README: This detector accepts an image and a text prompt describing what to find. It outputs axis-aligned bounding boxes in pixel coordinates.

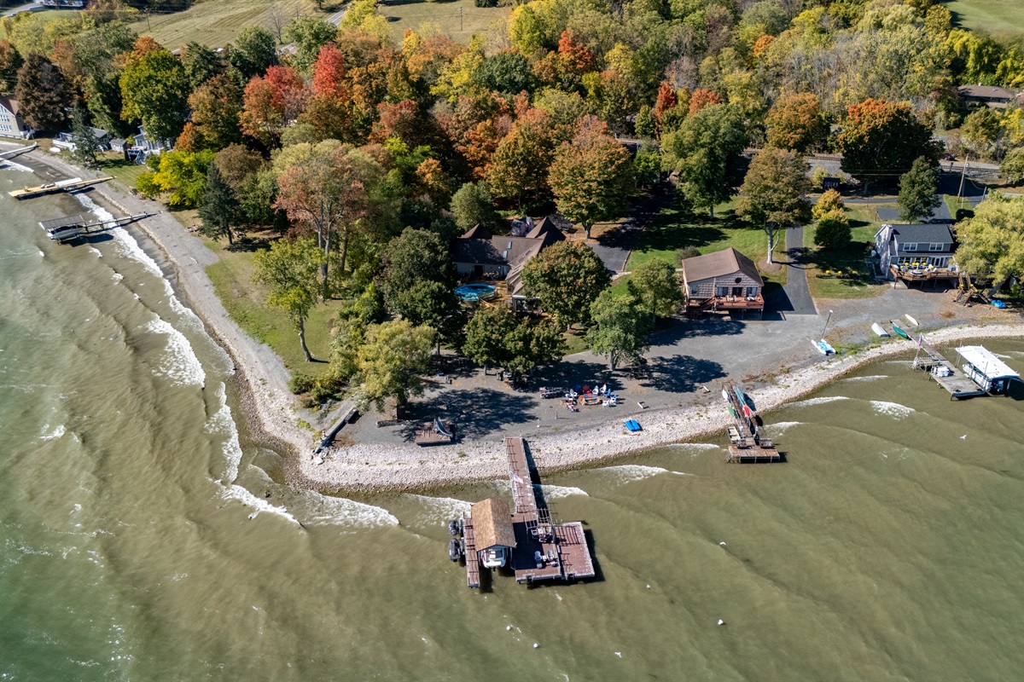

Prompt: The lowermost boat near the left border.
[45,224,86,237]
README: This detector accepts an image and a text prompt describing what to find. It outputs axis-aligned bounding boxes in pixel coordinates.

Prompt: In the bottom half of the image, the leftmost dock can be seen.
[463,431,595,594]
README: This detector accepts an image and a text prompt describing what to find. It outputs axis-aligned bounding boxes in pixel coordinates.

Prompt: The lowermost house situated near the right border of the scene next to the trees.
[866,213,995,304]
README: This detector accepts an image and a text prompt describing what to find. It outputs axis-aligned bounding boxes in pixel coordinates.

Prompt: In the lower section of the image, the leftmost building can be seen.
[471,499,517,576]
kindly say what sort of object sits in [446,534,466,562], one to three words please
boat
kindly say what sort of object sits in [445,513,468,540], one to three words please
boat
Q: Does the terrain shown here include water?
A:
Yes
